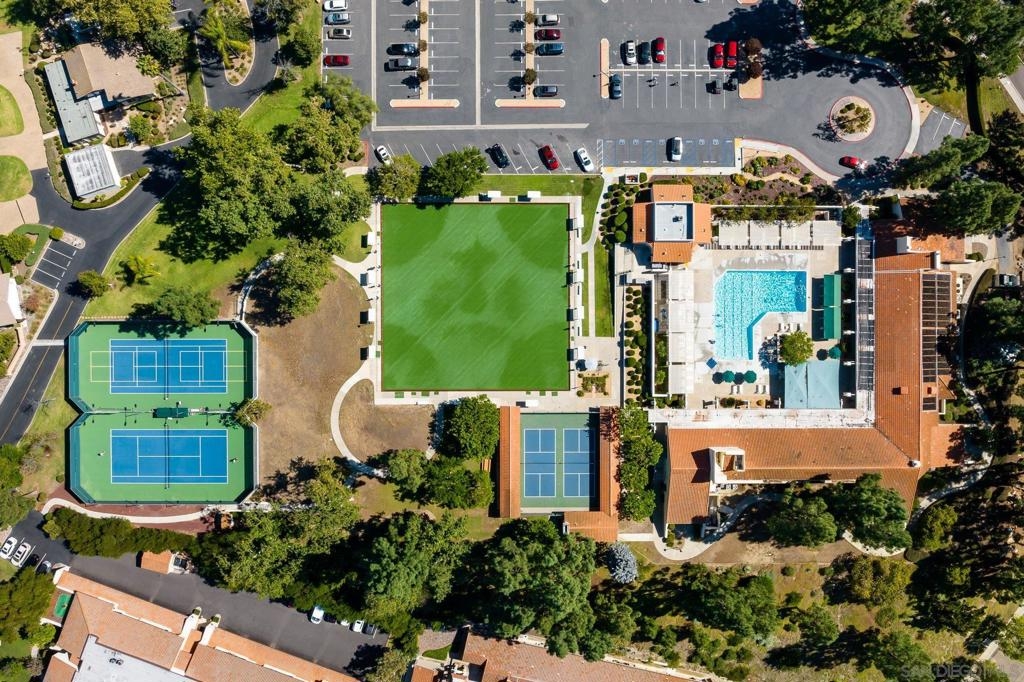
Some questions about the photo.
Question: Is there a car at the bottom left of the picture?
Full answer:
Yes, you'll find a car at the bottom left of the picture.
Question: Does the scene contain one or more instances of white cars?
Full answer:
Yes, you can see a white car in this photo.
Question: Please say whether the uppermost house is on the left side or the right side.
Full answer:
You can find the uppermost house on the left side of the picture.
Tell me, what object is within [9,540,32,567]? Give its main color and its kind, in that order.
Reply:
white car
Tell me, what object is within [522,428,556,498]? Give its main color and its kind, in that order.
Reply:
blue sports court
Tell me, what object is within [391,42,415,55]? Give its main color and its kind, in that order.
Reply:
black vehicle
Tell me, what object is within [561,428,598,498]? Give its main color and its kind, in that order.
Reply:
blue sports court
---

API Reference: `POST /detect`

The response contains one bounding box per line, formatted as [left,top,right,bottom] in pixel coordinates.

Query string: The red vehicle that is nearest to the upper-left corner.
[325,54,349,66]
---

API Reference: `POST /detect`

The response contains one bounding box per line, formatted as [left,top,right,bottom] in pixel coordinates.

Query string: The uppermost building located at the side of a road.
[45,44,187,143]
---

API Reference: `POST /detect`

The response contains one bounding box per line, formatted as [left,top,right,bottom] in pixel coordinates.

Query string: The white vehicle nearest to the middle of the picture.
[576,147,595,172]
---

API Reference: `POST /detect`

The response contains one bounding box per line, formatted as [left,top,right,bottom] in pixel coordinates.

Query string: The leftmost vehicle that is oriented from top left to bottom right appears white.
[374,143,393,166]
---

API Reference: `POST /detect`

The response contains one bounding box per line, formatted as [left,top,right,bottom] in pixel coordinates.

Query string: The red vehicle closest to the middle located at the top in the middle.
[540,145,559,169]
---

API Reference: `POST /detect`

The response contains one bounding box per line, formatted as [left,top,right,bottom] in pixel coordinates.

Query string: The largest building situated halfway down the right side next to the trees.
[649,198,976,537]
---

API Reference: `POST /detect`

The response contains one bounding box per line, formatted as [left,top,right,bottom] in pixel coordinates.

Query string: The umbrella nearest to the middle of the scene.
[584,355,599,369]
